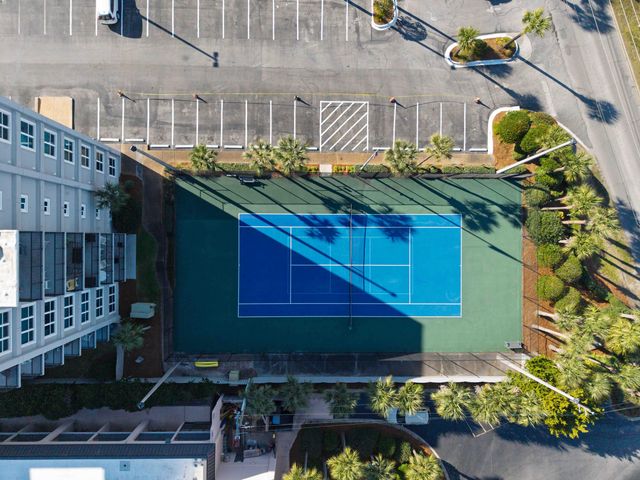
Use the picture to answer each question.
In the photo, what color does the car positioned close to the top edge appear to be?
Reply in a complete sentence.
The car positioned close to the top edge looks white in the image.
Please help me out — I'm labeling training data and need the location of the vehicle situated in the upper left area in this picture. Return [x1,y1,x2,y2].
[97,0,121,26]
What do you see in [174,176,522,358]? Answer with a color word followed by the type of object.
blue tennis court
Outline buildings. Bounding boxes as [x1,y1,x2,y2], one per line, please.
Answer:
[0,399,221,480]
[0,95,137,396]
